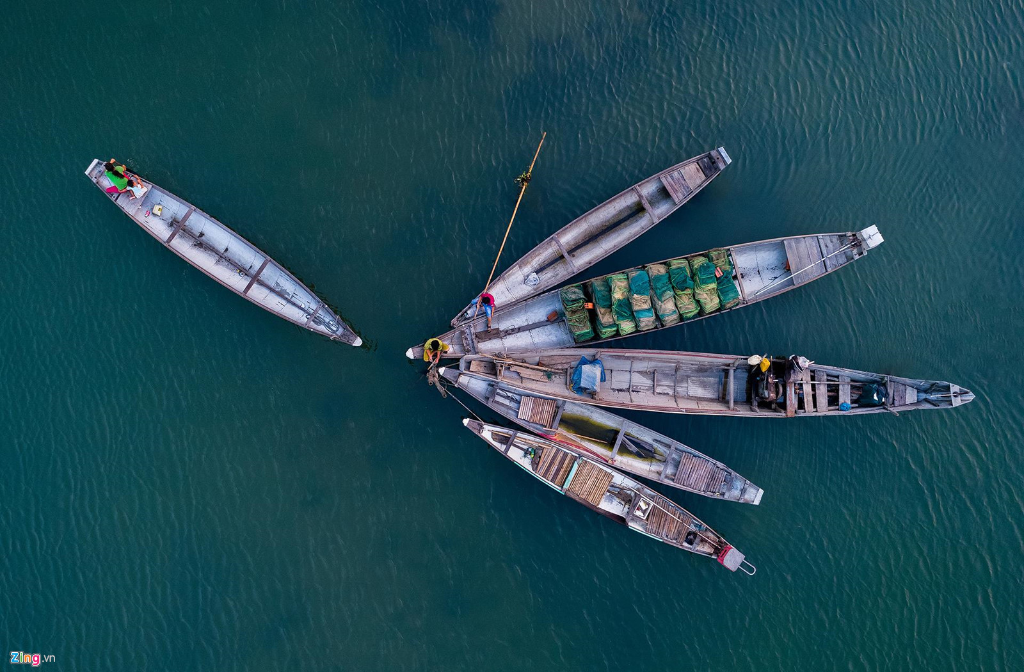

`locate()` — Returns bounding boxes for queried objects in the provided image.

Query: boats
[83,157,366,347]
[461,419,756,575]
[450,146,733,327]
[461,348,975,417]
[437,368,766,506]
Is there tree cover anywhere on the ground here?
No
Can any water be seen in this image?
Yes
